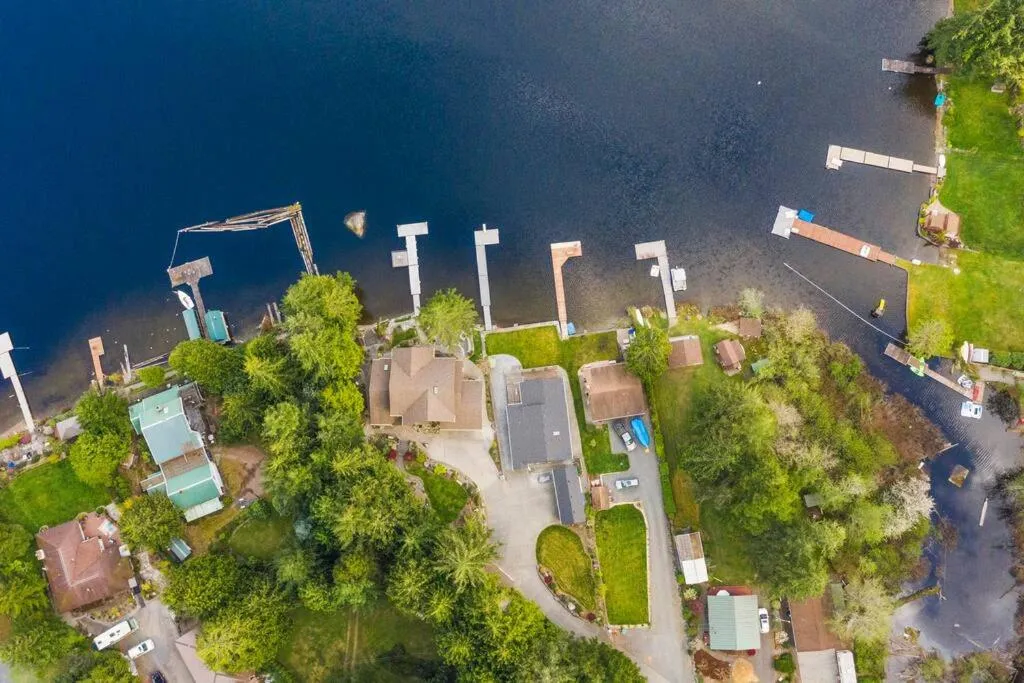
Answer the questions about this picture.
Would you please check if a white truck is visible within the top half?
No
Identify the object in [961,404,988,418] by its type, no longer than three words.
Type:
boat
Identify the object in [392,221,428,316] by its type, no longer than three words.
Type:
pier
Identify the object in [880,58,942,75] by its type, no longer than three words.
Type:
pier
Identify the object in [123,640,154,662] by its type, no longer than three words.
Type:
truck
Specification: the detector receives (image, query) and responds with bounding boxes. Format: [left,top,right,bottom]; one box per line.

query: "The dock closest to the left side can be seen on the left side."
[0,332,35,431]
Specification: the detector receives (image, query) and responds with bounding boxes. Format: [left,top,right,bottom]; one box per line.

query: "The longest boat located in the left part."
[170,291,193,310]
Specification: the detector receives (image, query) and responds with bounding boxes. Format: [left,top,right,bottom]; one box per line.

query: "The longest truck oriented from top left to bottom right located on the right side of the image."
[612,419,638,453]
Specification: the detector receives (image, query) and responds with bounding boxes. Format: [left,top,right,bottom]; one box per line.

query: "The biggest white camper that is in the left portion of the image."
[84,619,138,656]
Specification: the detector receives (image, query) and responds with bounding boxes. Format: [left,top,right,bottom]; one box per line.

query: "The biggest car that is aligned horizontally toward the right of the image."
[614,476,641,491]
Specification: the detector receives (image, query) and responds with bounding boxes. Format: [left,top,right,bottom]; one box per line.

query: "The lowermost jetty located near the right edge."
[882,343,985,403]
